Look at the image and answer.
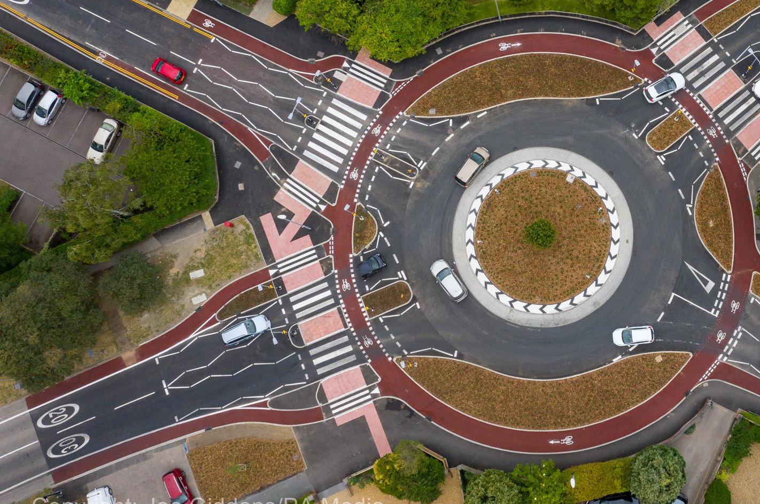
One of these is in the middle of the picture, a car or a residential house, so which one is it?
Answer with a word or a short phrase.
car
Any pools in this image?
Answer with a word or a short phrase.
No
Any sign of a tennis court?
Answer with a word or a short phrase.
No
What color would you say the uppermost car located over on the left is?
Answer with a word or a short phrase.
red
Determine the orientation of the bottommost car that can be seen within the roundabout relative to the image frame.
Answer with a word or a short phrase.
from side to side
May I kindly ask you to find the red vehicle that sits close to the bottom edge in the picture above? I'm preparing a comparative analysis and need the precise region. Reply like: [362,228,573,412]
[159,469,196,504]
